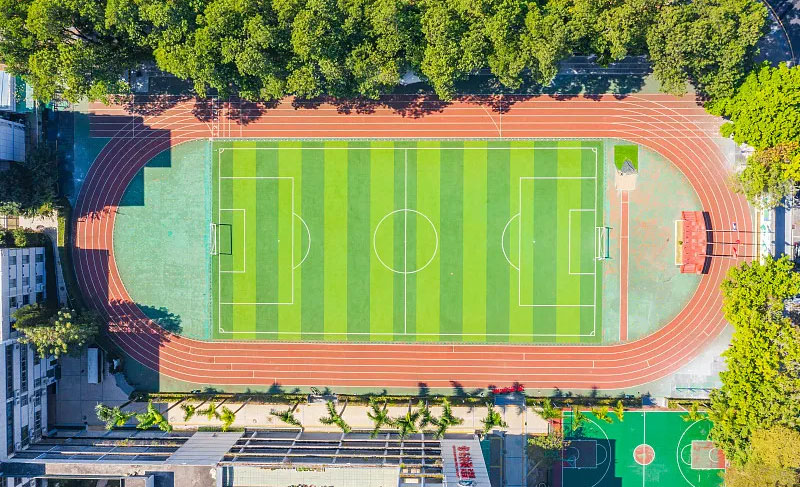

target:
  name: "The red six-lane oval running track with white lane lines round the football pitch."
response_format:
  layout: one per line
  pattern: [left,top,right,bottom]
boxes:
[73,93,750,389]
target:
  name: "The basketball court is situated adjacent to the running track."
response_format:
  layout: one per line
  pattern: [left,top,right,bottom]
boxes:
[550,406,733,487]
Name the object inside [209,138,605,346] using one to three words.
soccer field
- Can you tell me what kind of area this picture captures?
sports ground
